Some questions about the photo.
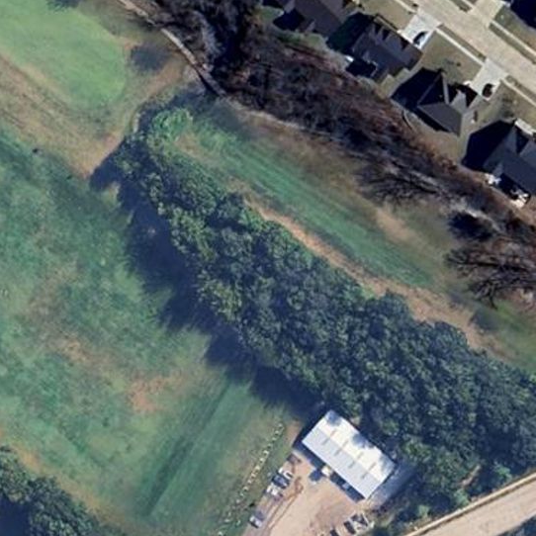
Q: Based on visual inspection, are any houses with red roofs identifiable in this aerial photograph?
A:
No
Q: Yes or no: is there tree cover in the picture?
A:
Yes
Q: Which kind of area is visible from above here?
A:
golf course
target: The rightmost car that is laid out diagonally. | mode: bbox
[483,82,497,98]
